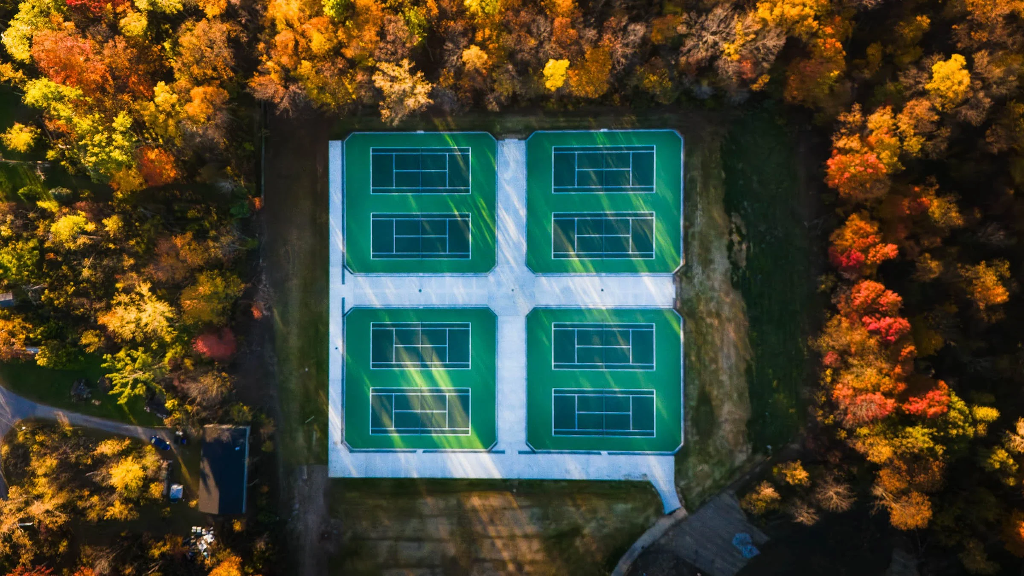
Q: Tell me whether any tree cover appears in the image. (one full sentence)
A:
Yes, there is tree cover in the image.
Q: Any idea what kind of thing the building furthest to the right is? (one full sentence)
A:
The building furthest to the right in the image is a house.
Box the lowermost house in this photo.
[199,428,248,519]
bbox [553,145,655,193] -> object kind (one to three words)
tennis court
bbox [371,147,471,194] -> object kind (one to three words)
tennis court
